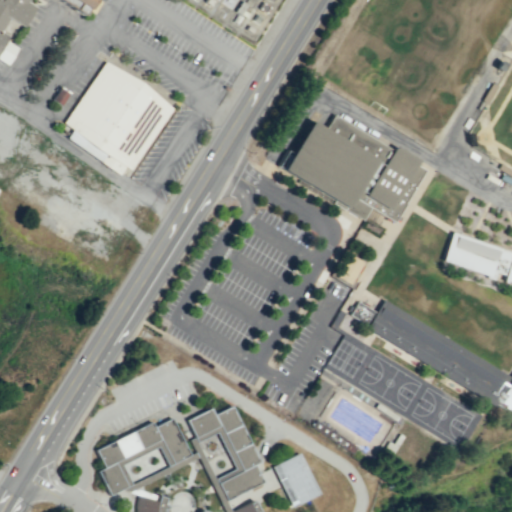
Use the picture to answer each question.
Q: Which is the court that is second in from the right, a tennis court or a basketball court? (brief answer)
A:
basketball court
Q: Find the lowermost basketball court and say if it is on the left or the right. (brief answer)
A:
right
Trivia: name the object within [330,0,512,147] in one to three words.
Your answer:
sports field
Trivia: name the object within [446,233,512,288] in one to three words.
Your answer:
building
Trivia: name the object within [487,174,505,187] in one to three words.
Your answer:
vehicle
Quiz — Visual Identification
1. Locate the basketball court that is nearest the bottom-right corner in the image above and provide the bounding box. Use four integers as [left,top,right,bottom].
[412,387,476,442]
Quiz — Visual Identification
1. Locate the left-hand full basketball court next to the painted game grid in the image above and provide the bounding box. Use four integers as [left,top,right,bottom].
[359,356,422,411]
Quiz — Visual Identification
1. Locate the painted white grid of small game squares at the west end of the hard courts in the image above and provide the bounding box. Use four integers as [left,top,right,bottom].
[330,340,368,378]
